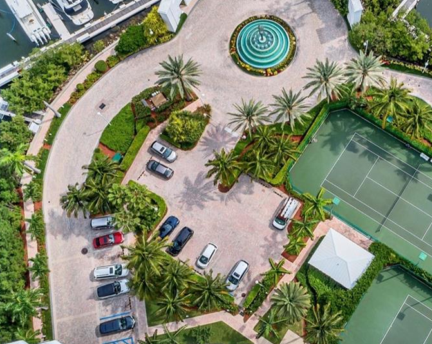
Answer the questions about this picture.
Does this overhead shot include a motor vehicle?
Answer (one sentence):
Yes, there is a motor vehicle in the image.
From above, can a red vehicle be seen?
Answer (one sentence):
Yes, a red vehicle appears in the view.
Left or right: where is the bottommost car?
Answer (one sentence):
You can find the bottommost car on the left side of the picture.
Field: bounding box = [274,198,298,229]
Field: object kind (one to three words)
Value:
car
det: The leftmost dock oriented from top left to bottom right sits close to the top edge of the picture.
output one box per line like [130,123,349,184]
[36,0,71,40]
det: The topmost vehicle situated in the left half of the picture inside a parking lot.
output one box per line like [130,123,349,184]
[149,141,179,163]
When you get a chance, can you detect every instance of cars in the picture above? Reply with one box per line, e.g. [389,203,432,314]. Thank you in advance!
[94,264,127,280]
[274,198,298,229]
[149,141,179,163]
[99,315,135,336]
[92,232,125,249]
[226,260,250,292]
[145,160,175,179]
[168,226,195,255]
[196,241,218,271]
[156,213,183,242]
[96,281,129,299]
